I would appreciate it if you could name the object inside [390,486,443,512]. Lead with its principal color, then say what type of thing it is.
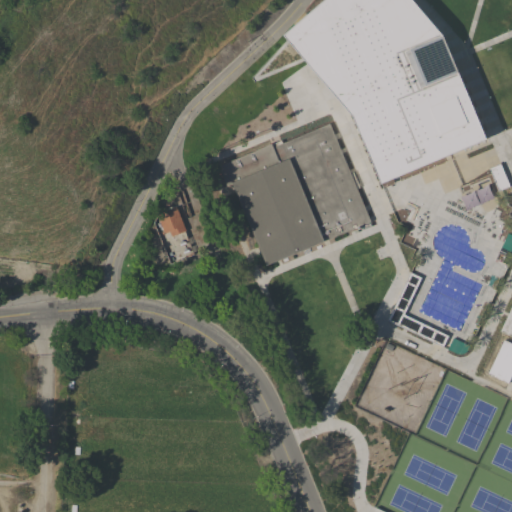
blue tennis court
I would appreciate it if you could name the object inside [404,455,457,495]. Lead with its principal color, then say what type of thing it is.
blue tennis court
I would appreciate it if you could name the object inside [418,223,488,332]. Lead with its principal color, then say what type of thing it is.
blue swimming pool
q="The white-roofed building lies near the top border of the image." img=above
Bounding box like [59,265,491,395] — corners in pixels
[285,0,486,184]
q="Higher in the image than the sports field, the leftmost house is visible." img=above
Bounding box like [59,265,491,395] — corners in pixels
[158,208,188,238]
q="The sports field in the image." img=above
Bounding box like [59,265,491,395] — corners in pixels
[71,347,274,512]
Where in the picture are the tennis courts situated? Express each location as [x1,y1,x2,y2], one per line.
[404,455,457,495]
[472,486,512,512]
[390,486,443,512]
[426,384,466,436]
[458,398,498,451]
[492,443,512,472]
